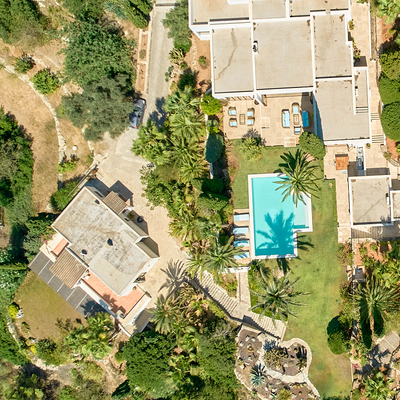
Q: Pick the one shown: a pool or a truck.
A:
pool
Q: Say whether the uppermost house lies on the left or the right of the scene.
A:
right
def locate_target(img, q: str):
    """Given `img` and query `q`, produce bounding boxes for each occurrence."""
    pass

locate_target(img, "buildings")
[189,0,371,147]
[349,176,400,227]
[39,186,161,332]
